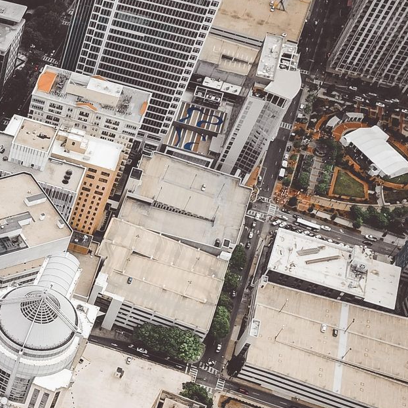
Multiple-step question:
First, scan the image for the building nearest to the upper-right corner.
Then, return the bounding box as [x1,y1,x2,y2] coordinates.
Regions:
[329,0,408,92]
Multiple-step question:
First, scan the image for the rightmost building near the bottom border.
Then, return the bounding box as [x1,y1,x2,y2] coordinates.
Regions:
[235,267,408,408]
